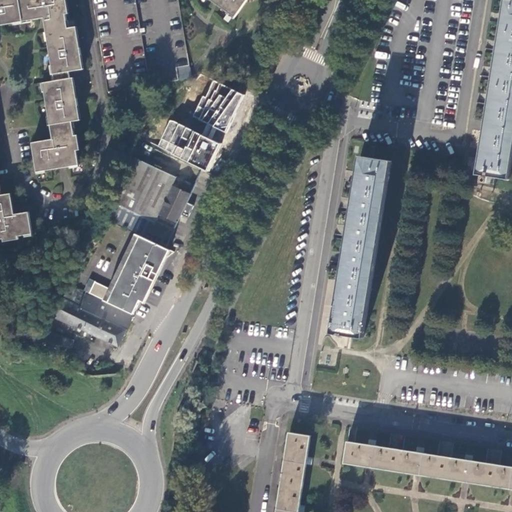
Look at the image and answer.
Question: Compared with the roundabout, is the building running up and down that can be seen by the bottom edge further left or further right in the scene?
right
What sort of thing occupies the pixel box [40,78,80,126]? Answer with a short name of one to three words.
building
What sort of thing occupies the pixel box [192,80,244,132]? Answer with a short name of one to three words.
building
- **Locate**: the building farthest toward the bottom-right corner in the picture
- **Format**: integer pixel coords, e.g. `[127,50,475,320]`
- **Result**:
[342,439,512,488]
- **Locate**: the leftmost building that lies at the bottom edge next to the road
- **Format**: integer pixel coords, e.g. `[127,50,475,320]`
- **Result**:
[276,432,314,512]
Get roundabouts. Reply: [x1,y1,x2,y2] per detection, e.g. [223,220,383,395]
[31,418,164,512]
